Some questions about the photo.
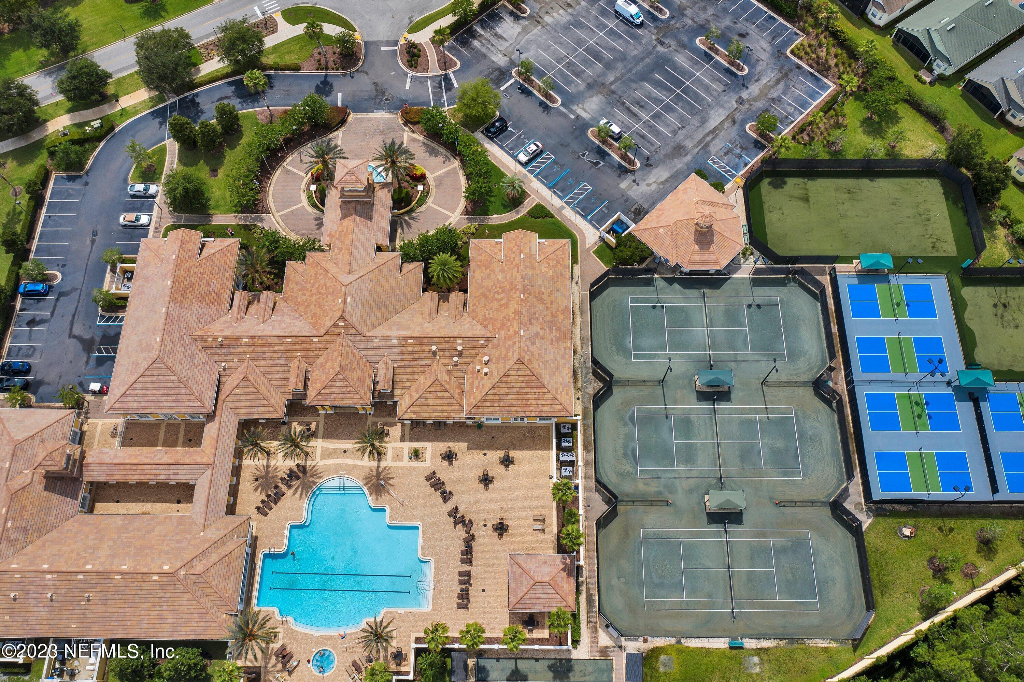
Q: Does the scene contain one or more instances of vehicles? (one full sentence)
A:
Yes, a vehicle can be made out from above.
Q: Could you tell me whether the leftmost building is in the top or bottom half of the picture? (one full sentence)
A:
The leftmost building is in the bottom half of the image.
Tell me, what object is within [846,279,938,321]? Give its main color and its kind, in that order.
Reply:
blue sports court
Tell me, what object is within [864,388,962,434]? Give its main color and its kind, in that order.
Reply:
blue sports court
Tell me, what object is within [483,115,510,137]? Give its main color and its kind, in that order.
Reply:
black car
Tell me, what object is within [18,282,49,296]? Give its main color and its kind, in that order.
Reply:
blue car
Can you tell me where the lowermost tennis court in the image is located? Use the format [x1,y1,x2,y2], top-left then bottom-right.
[476,660,612,682]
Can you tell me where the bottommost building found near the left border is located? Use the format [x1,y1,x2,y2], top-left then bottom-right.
[0,409,257,641]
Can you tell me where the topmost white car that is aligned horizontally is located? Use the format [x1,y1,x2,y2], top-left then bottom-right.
[127,183,158,197]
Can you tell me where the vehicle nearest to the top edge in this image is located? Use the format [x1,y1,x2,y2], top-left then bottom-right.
[614,0,643,24]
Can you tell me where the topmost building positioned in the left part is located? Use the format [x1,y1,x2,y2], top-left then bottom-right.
[104,159,575,426]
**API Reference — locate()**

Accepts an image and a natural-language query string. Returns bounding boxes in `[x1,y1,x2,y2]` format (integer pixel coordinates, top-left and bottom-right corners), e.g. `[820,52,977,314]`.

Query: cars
[483,115,510,137]
[598,118,624,139]
[127,183,158,197]
[0,378,28,392]
[119,214,150,227]
[18,282,49,296]
[517,141,544,164]
[0,361,31,375]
